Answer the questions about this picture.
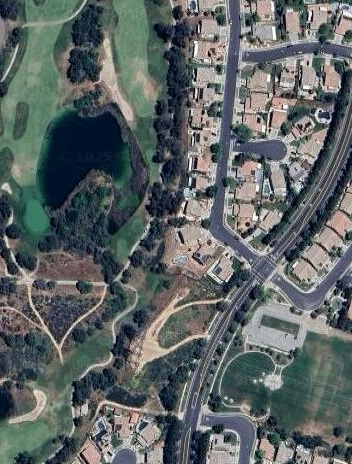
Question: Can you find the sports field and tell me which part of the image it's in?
bottom right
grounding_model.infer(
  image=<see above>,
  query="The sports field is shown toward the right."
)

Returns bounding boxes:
[292,330,352,431]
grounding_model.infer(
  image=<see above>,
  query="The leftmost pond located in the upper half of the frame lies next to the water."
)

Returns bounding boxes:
[35,108,148,231]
